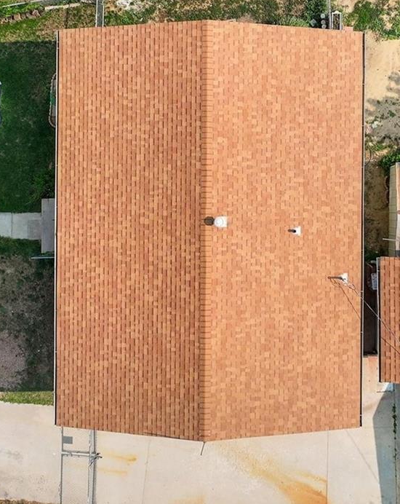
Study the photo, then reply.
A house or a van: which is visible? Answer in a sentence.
There is a house in the scene.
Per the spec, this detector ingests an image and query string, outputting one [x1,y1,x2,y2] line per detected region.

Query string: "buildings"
[374,257,400,383]
[53,19,366,439]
